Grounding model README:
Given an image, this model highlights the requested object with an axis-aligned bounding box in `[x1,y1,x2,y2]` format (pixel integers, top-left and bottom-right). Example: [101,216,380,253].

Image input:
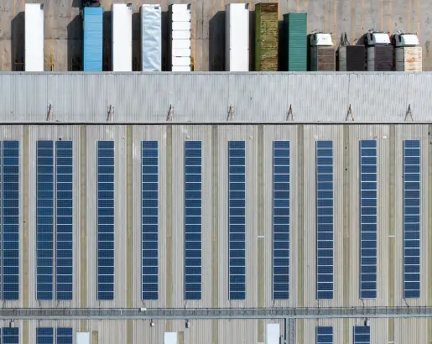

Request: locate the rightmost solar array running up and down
[404,140,423,299]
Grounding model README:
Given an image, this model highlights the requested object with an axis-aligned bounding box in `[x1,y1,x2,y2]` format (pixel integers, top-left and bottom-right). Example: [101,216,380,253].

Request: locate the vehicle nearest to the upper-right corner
[391,28,421,47]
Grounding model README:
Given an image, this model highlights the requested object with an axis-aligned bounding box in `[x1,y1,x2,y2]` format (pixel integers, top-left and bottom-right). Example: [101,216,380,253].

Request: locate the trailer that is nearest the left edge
[23,3,44,71]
